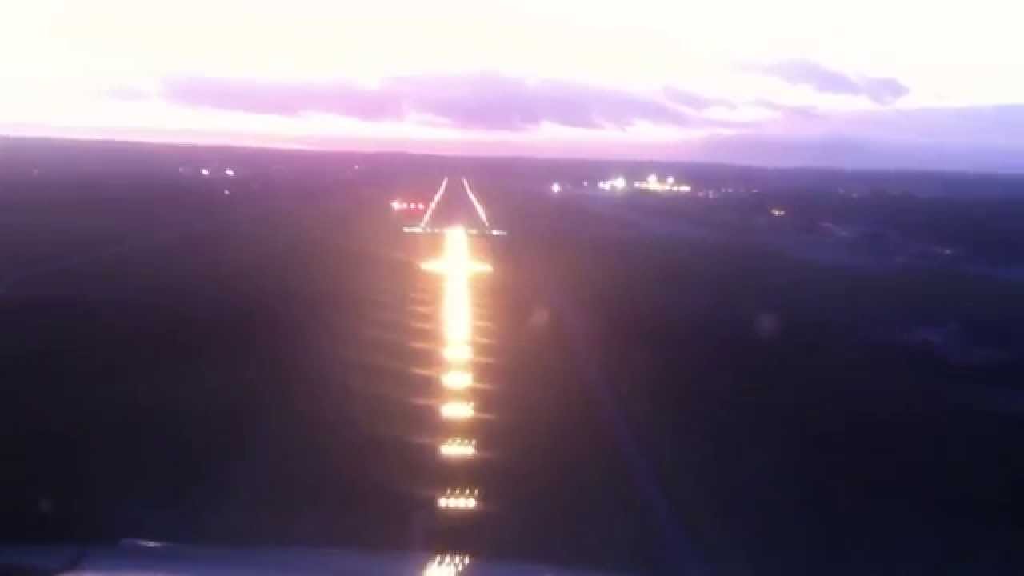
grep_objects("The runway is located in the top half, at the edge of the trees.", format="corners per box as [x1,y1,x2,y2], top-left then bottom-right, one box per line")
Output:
[429,177,481,232]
